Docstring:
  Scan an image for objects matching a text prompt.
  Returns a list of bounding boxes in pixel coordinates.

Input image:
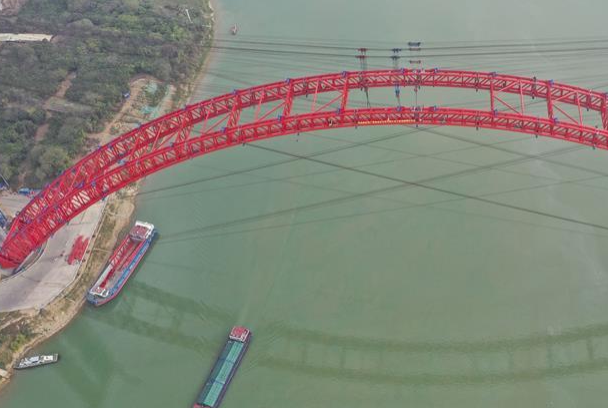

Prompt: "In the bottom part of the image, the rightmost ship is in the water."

[192,322,254,408]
